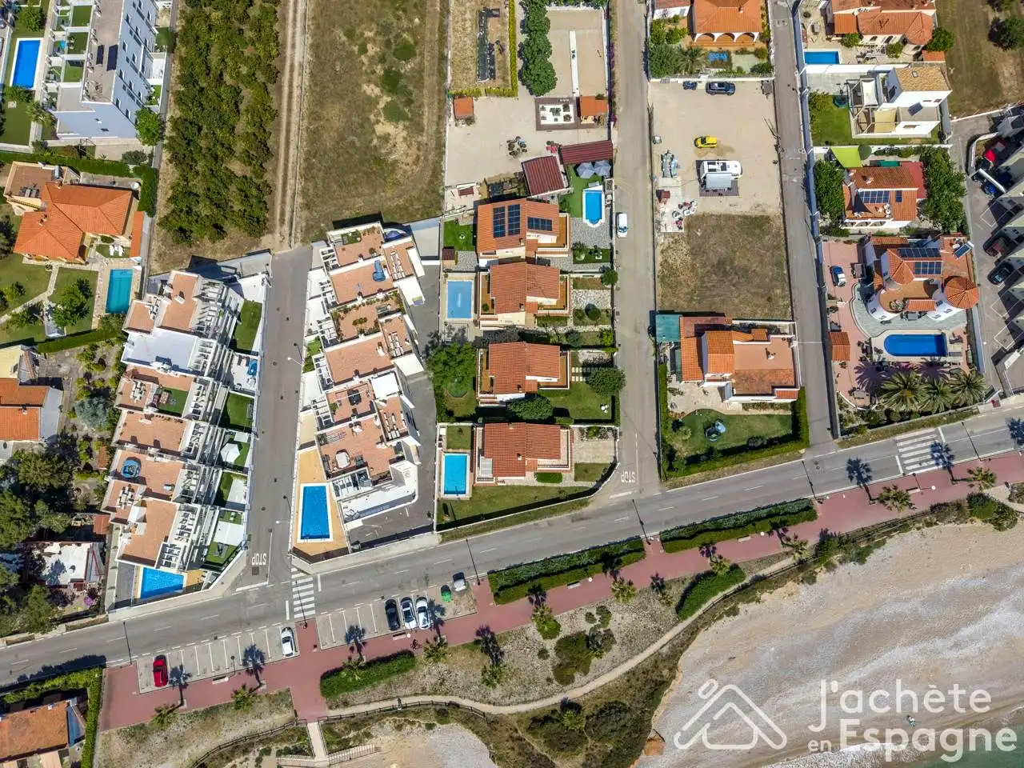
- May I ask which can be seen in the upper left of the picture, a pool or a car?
pool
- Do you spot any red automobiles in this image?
Yes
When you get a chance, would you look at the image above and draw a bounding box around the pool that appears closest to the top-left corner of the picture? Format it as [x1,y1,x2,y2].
[10,37,43,90]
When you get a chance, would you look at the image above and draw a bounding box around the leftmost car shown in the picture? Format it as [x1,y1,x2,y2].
[149,656,168,691]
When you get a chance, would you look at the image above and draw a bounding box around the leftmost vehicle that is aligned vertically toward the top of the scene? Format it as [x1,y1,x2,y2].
[615,208,630,239]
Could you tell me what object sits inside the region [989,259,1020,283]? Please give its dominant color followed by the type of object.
black car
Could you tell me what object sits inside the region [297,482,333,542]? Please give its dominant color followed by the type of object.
blue swimming pool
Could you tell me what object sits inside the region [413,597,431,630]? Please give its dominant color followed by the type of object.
white car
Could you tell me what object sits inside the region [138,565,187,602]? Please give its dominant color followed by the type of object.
blue swimming pool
